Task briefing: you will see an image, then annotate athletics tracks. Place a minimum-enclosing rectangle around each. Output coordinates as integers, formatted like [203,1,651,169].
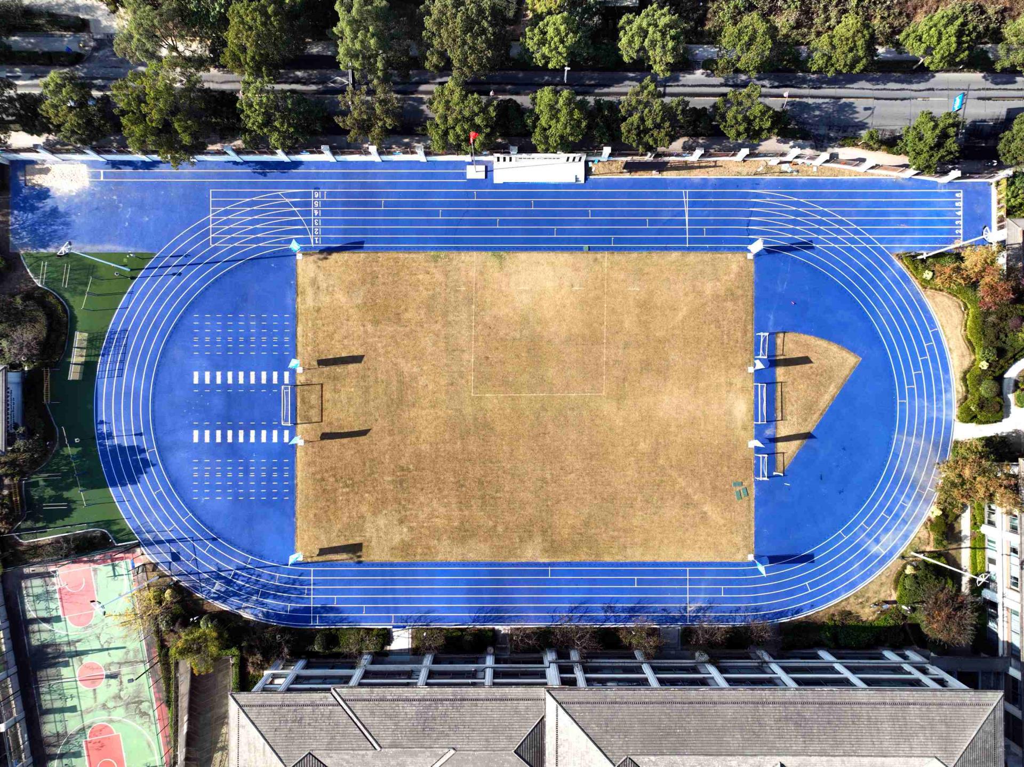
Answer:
[9,160,999,630]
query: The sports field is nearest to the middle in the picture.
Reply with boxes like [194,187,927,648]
[296,251,755,562]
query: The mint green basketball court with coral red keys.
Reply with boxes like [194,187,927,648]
[0,544,182,767]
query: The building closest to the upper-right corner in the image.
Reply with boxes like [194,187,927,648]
[995,220,1024,248]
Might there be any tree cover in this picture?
Yes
